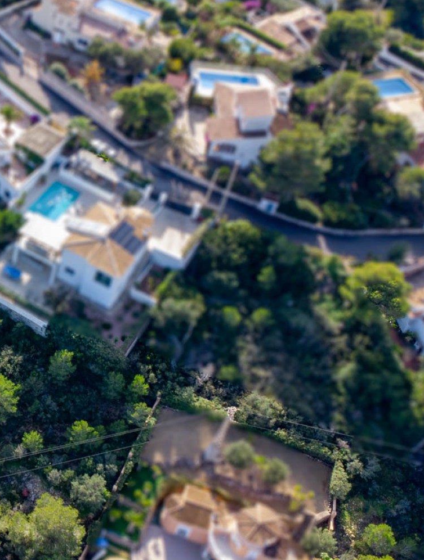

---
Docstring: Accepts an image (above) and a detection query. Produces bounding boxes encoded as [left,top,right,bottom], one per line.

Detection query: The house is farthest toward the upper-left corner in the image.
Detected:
[32,0,96,59]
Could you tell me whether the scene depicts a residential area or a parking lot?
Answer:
residential area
